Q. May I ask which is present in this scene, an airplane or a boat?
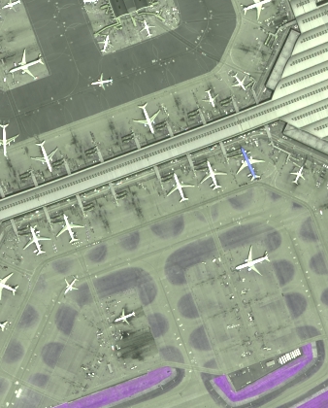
airplane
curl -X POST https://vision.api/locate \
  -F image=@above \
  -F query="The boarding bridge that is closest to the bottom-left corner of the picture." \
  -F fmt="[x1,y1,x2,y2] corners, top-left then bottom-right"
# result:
[10,220,30,237]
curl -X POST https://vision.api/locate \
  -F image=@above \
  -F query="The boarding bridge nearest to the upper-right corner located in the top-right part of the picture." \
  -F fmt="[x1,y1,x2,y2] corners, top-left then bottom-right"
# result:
[265,20,297,45]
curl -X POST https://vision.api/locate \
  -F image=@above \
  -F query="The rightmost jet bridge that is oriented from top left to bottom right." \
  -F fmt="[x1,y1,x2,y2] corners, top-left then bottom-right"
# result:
[266,127,301,168]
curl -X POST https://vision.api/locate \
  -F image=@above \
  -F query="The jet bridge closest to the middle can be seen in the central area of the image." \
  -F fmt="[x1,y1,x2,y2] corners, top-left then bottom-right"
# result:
[154,167,174,182]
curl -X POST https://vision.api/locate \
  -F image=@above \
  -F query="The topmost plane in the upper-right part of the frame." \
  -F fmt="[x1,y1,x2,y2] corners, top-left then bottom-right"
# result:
[242,0,270,19]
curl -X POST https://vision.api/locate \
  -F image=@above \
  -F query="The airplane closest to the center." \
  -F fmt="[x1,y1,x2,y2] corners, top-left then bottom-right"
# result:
[169,174,197,202]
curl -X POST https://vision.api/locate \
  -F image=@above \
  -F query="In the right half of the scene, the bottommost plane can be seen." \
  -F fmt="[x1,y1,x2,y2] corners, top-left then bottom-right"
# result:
[236,241,273,274]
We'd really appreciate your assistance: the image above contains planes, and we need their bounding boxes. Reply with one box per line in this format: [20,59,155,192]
[66,278,79,292]
[24,226,53,255]
[237,74,249,91]
[242,0,270,19]
[141,21,155,37]
[58,215,86,243]
[203,161,229,189]
[132,102,159,133]
[116,305,136,324]
[0,274,20,302]
[96,36,112,52]
[3,0,22,10]
[169,174,197,202]
[28,138,58,171]
[237,147,268,181]
[236,241,273,274]
[91,71,114,90]
[0,122,19,156]
[9,46,45,76]
[201,86,218,106]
